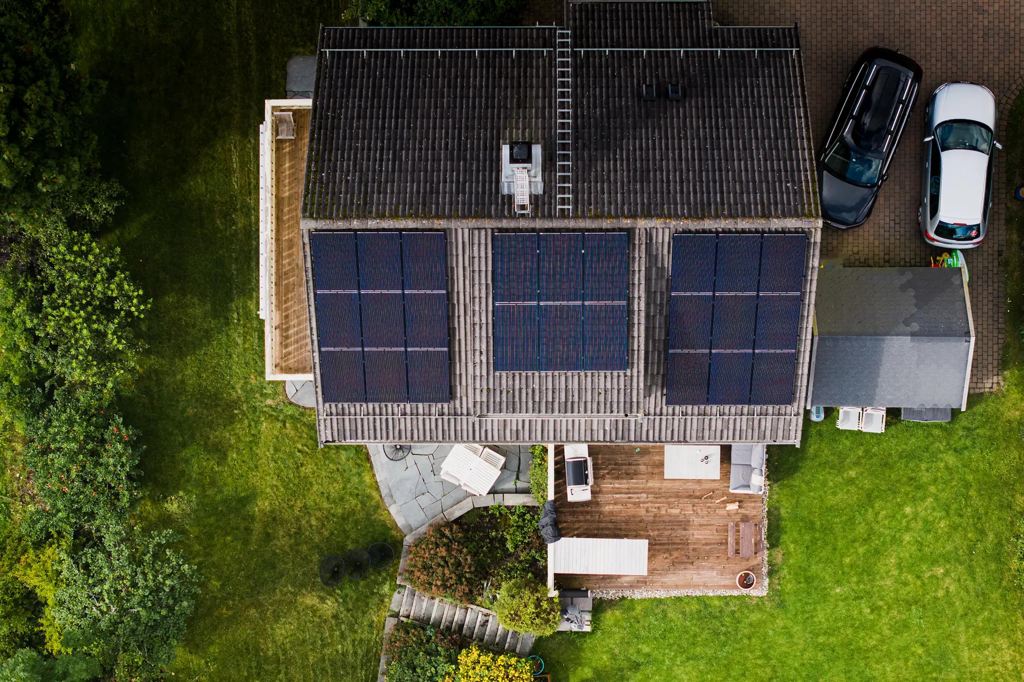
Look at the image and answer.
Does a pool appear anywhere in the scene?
No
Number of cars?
2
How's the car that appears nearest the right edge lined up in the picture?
up and down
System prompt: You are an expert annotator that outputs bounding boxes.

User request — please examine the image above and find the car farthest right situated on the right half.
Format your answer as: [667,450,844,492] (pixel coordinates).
[917,81,1008,250]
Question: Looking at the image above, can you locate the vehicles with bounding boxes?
[917,81,1008,250]
[814,41,924,232]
